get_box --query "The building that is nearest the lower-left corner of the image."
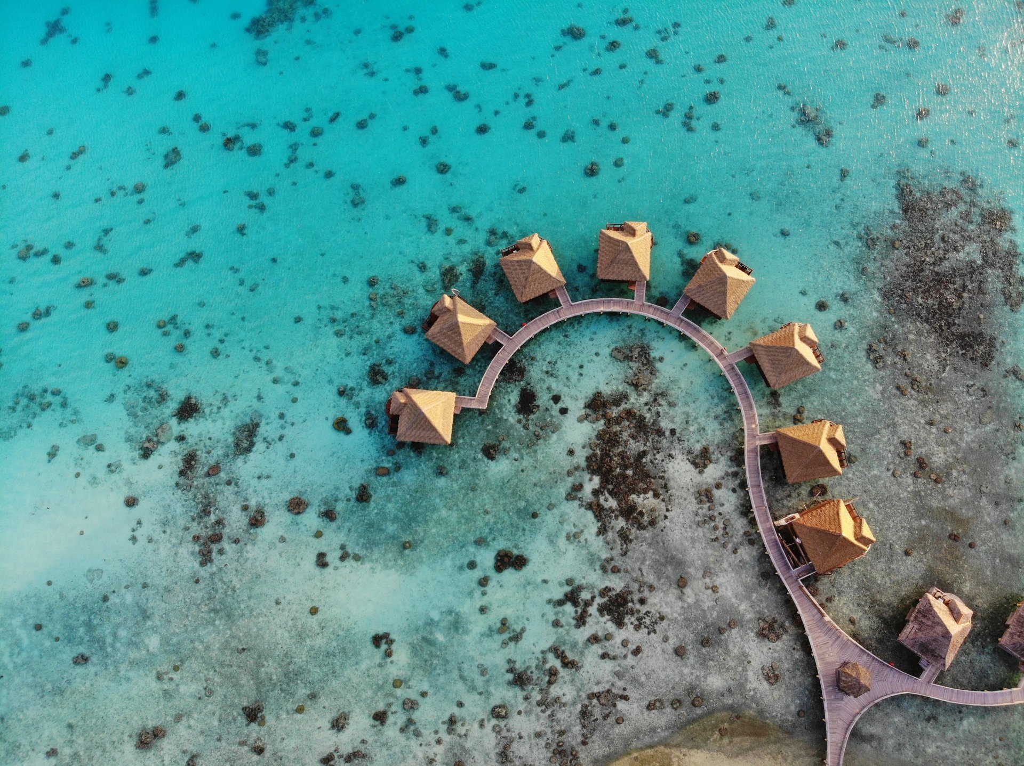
[389,386,465,444]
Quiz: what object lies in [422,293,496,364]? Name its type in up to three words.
house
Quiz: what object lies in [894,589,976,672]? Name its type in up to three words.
house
